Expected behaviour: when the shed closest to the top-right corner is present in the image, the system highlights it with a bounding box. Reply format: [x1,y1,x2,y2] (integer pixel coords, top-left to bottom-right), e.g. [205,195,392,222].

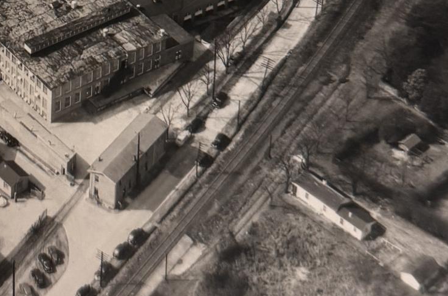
[392,132,421,158]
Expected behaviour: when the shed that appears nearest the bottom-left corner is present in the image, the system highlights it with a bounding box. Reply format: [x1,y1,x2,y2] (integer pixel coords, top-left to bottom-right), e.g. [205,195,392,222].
[0,162,30,193]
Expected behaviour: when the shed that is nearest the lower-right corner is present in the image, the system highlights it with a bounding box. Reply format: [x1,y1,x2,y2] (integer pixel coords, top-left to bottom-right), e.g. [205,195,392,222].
[395,252,442,294]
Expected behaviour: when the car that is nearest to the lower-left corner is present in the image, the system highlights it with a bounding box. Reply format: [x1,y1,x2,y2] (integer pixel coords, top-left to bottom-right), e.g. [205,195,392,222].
[17,281,38,296]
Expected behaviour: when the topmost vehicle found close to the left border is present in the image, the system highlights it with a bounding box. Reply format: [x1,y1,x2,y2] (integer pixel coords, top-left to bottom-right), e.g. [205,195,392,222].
[0,128,20,146]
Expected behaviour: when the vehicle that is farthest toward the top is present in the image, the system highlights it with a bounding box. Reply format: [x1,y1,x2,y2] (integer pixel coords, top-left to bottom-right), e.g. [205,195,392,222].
[208,89,231,106]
